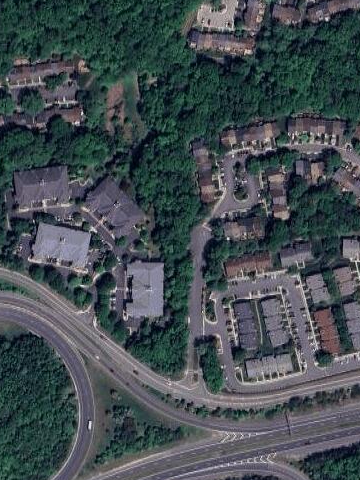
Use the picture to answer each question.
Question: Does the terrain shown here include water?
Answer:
No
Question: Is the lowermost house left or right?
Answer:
right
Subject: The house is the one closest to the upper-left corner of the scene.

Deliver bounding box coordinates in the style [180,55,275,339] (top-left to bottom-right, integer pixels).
[8,60,76,83]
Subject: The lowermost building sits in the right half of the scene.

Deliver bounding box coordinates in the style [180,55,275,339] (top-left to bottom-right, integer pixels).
[244,350,294,380]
